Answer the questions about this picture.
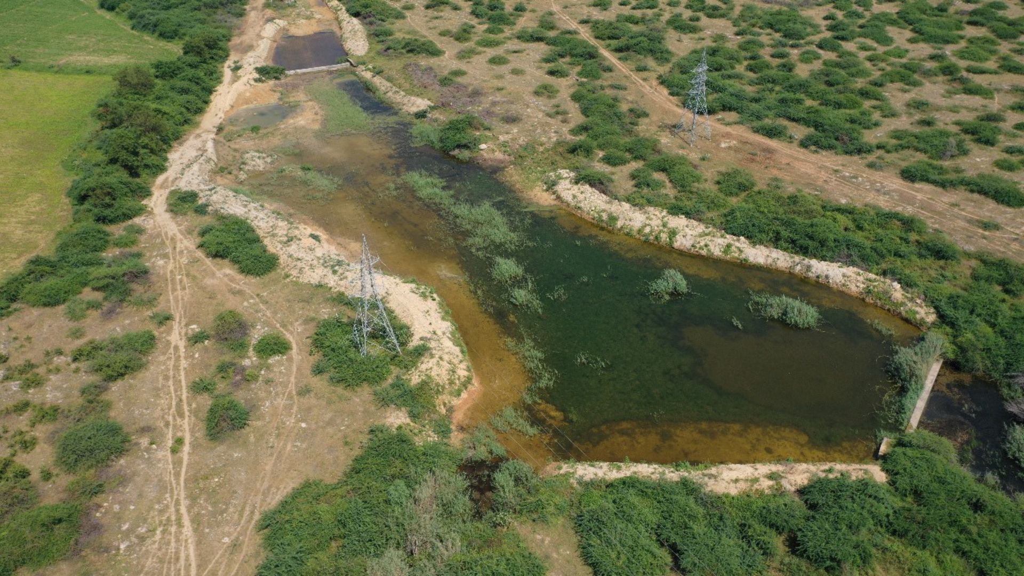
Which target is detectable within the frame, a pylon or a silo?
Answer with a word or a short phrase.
pylon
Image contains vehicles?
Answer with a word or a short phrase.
No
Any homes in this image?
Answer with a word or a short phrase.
No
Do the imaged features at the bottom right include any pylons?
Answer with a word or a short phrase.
No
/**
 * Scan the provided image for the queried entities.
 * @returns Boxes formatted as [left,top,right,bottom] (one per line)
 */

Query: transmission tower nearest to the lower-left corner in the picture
[348,233,400,356]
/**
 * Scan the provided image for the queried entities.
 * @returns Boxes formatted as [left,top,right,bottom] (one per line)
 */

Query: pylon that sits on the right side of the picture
[673,48,713,145]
